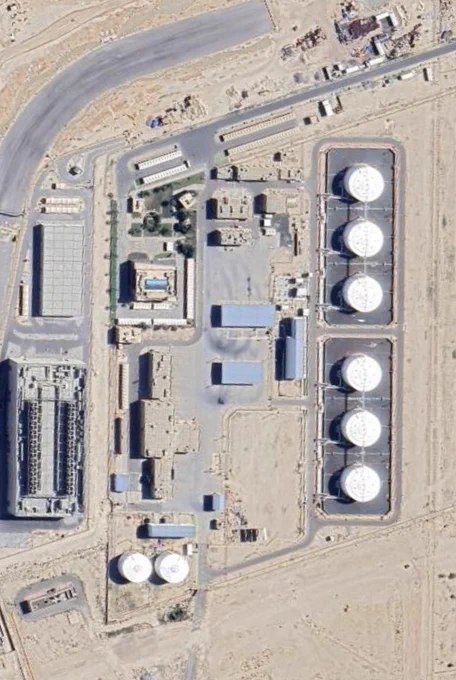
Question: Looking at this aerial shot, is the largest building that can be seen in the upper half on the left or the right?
left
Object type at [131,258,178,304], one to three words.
building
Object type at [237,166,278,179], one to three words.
building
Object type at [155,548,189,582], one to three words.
storage tank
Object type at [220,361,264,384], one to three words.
shed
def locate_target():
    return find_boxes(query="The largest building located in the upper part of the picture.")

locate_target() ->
[40,224,84,316]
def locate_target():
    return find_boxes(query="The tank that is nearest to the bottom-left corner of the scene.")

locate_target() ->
[118,548,153,582]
